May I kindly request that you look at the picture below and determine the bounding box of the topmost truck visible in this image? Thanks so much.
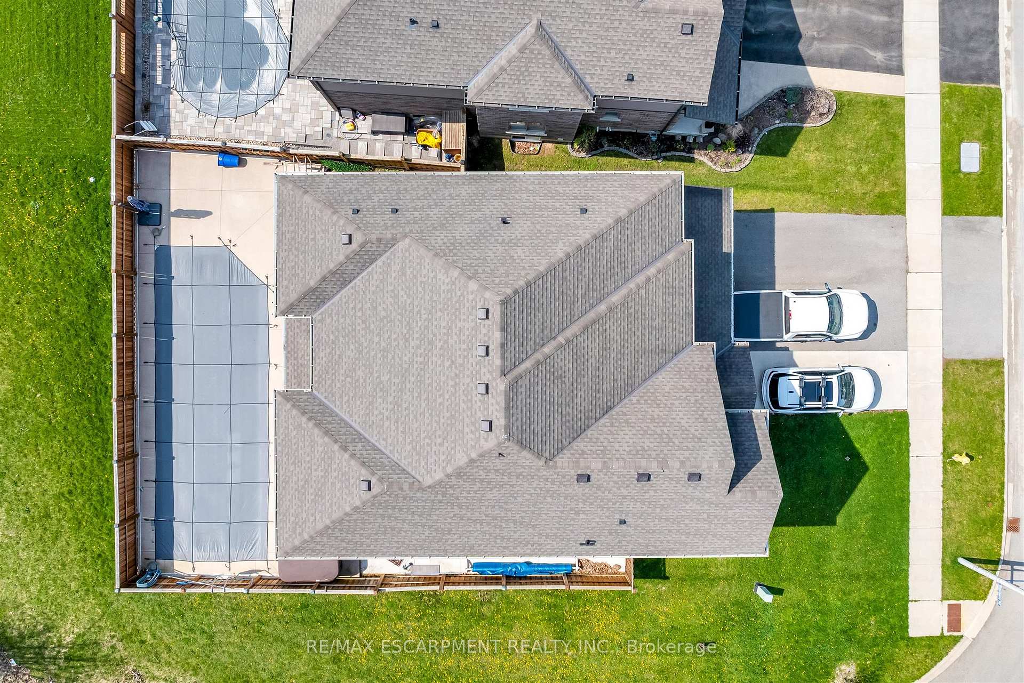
[735,283,871,349]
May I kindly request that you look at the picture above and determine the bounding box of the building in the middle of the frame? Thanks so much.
[273,170,784,561]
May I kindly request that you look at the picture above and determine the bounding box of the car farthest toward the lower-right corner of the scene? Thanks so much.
[758,362,872,419]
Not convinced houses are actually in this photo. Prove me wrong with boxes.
[286,0,759,144]
[273,170,784,561]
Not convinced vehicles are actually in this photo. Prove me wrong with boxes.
[735,283,871,349]
[758,362,872,419]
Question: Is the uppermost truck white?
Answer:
Yes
